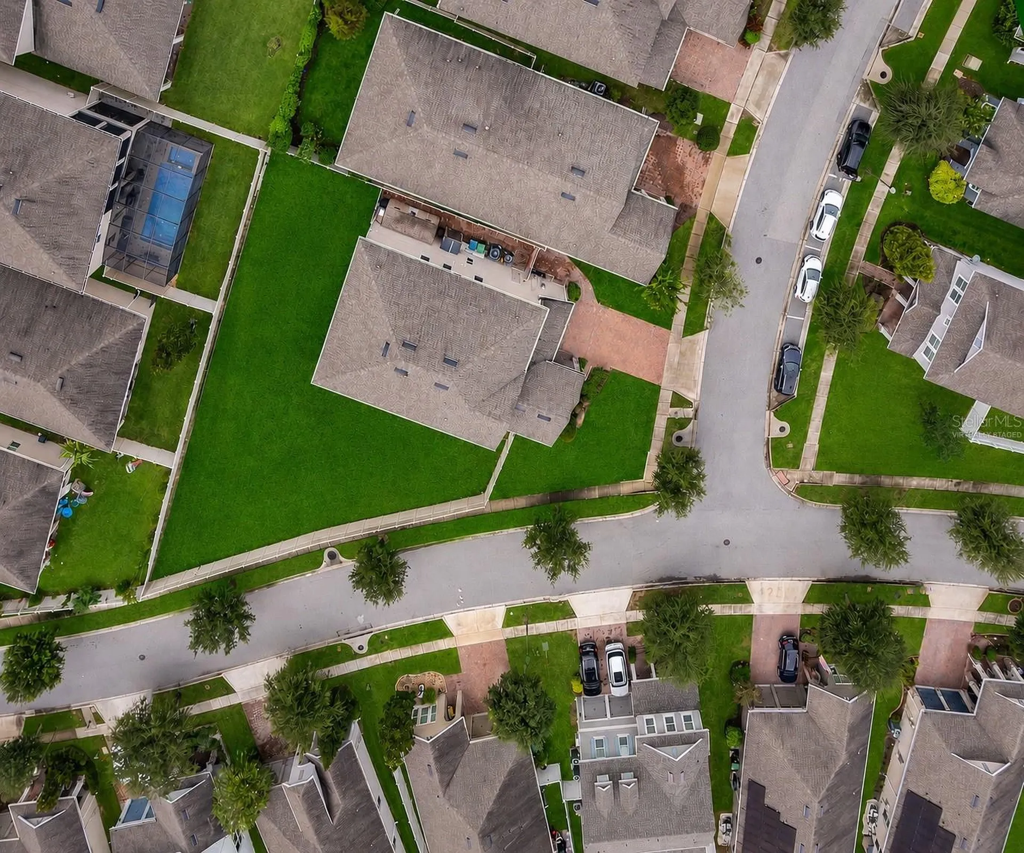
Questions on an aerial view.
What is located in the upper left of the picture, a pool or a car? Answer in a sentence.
You can see a pool in the upper left of the picture.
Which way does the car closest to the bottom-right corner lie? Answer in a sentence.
In this picture, the car closest to the bottom-right corner lies up and down.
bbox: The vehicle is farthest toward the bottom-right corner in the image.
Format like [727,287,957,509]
[775,632,802,683]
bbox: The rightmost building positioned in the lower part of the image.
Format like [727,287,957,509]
[866,653,1024,853]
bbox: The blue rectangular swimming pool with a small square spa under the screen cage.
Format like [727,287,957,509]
[117,130,202,270]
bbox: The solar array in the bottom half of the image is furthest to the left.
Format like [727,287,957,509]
[741,781,793,853]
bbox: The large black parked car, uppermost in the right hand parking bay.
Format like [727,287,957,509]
[836,118,875,181]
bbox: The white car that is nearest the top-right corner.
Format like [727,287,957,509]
[810,188,845,243]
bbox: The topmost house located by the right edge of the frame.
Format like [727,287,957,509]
[991,27,1024,64]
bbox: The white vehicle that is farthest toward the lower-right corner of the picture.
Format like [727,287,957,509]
[603,640,631,697]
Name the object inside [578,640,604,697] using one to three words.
car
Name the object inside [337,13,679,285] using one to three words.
house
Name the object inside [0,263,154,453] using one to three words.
house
